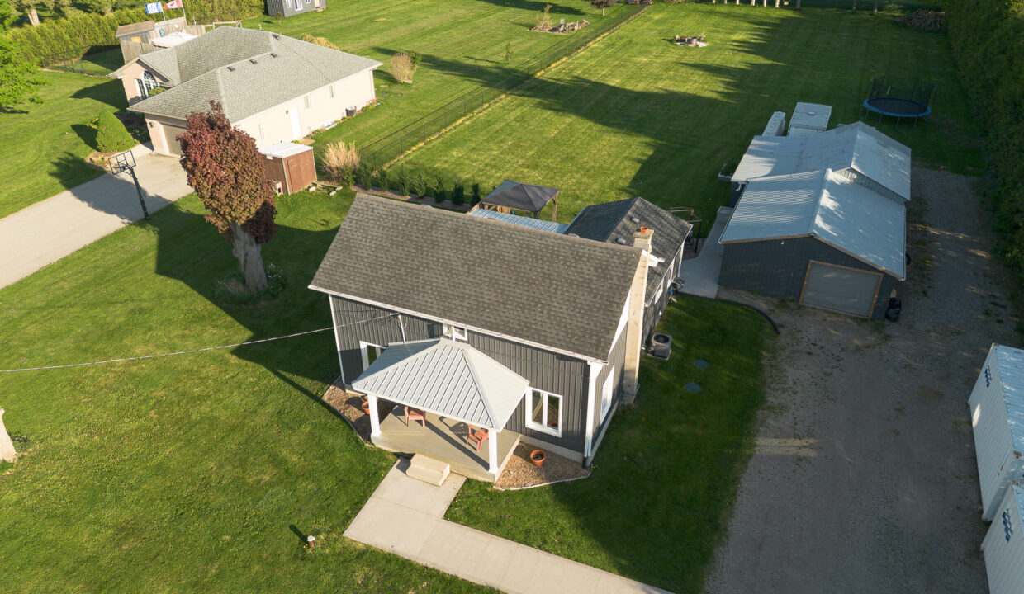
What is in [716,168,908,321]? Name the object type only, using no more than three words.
building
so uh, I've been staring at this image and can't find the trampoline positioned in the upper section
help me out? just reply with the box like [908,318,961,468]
[863,75,940,129]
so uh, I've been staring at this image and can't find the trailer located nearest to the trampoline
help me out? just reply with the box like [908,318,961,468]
[789,103,831,136]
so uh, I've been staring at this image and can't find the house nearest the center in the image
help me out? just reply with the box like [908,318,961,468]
[304,194,693,487]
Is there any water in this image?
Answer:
No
